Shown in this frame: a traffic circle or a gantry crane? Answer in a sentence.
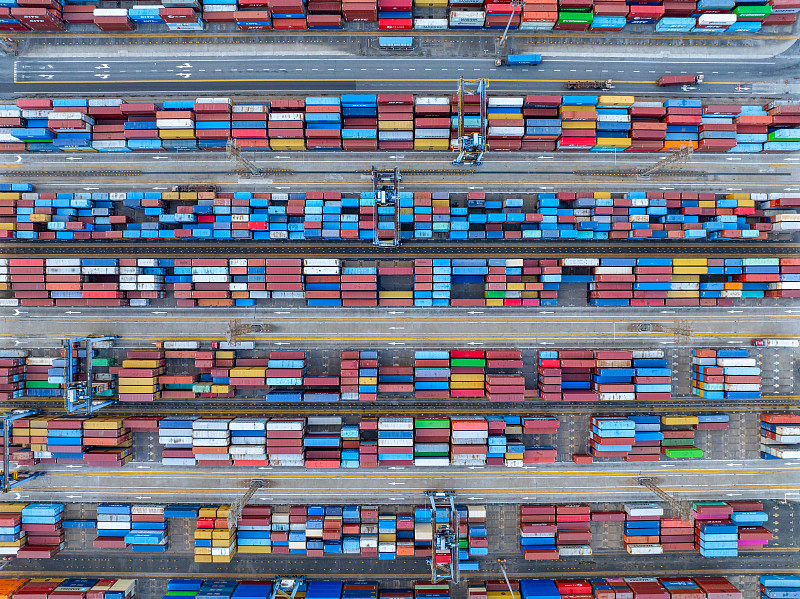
It is a gantry crane that can be seen here.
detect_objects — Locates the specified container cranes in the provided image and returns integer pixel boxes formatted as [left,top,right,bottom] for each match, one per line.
[445,77,488,167]
[419,490,462,590]
[0,408,54,505]
[65,333,130,412]
[365,166,408,250]
[267,573,312,599]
